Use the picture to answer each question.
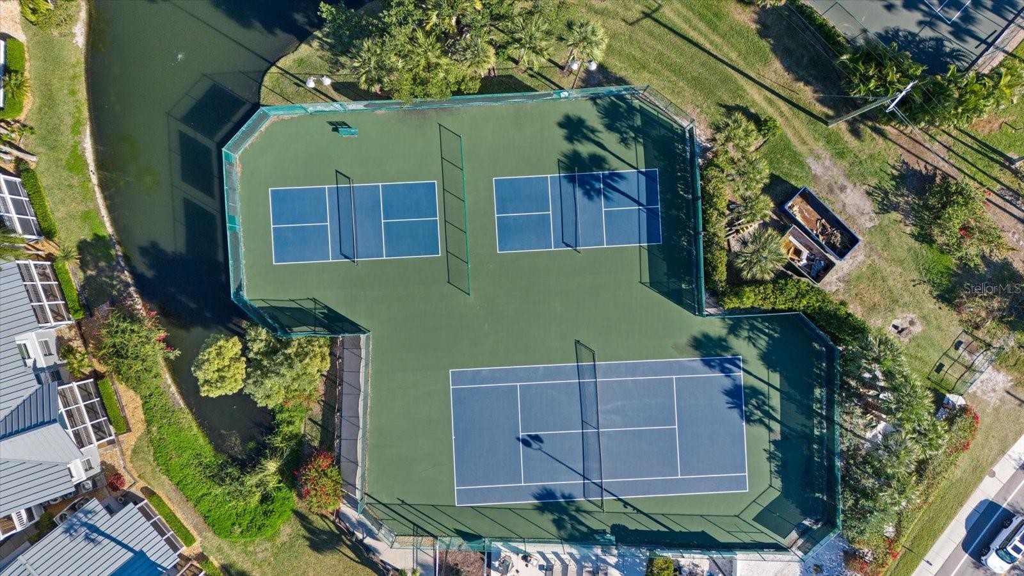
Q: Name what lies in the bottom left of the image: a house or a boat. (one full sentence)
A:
You can see a house in the bottom left of the image.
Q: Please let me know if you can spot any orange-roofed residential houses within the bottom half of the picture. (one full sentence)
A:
No, I see no orange-roofed residential house within the bottom half of the picture.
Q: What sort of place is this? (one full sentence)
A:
The area seen from above is a sports ground.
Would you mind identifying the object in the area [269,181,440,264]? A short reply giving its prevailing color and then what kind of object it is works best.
blue sports court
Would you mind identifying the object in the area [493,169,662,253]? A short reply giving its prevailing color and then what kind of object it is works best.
blue sports court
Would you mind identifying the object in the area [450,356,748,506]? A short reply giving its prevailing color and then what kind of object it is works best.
blue tennis court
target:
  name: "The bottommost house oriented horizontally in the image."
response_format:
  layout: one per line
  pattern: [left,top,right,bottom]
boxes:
[0,497,189,576]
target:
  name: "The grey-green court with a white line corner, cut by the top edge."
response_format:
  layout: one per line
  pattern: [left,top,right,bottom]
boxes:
[804,0,1024,71]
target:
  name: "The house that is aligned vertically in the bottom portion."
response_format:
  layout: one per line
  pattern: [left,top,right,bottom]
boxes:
[0,259,119,544]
